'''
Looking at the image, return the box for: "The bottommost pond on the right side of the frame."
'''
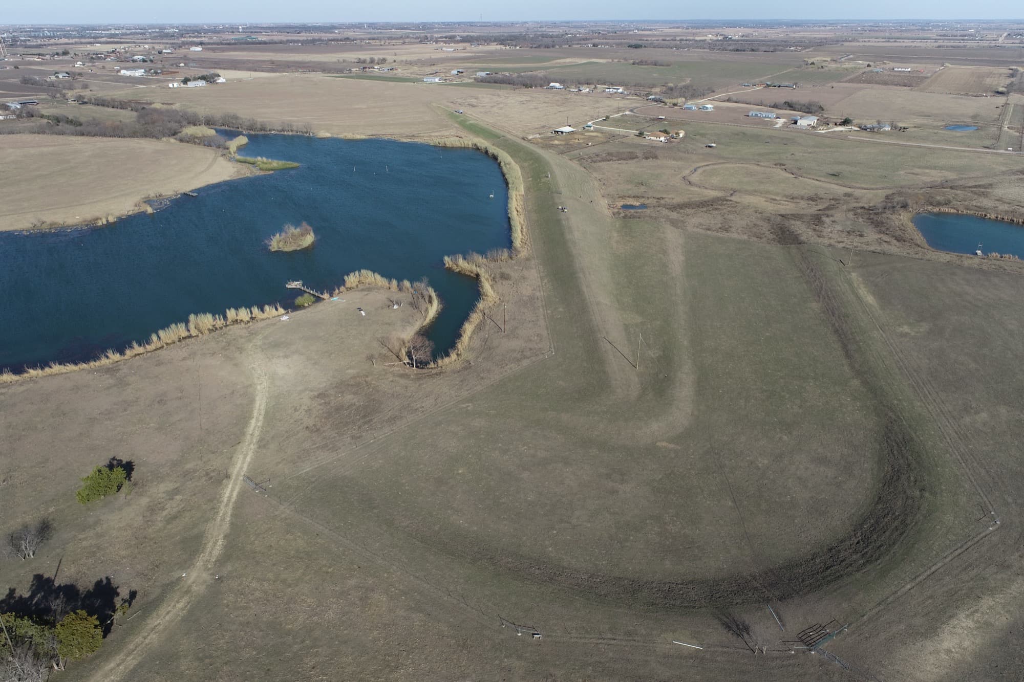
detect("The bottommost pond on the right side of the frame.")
[914,213,1024,259]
